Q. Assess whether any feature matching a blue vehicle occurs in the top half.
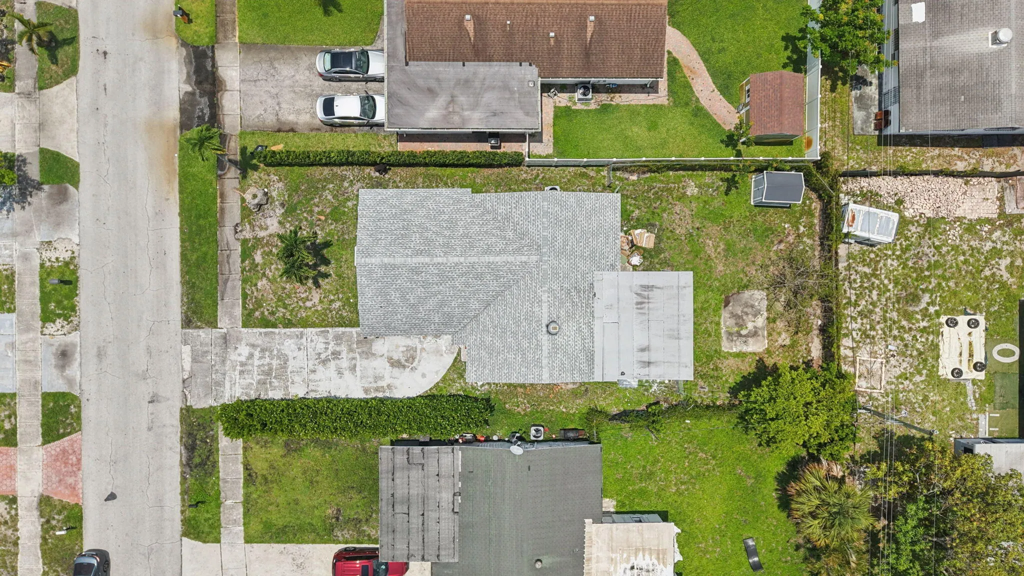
No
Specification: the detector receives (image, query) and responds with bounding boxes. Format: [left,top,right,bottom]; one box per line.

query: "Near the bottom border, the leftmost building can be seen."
[379,439,603,576]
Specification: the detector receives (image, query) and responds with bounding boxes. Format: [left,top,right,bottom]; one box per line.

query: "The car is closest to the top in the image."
[317,39,383,76]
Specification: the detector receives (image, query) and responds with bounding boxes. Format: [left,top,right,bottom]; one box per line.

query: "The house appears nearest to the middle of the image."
[354,188,694,385]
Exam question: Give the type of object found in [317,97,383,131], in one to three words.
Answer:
car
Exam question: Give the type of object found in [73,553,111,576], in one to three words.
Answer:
car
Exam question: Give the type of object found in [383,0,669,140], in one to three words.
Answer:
house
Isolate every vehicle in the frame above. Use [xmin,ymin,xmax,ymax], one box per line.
[317,39,383,76]
[317,97,383,131]
[333,548,408,576]
[73,553,111,576]
[828,204,897,246]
